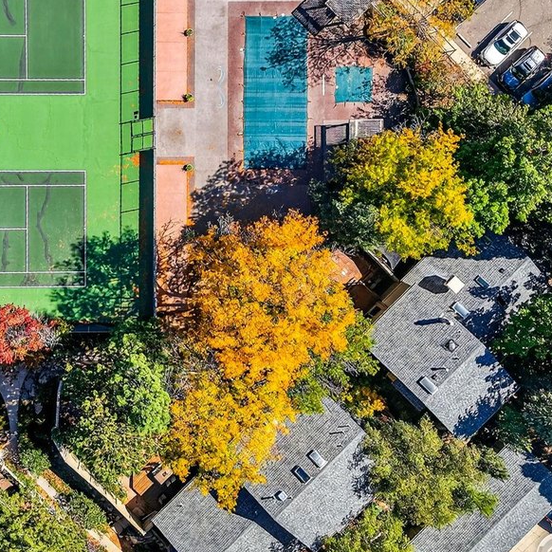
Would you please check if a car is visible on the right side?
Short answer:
Yes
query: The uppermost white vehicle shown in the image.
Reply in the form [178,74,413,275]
[477,20,528,68]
